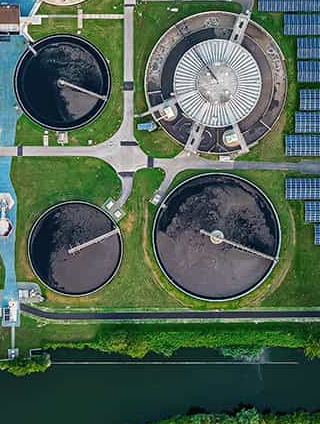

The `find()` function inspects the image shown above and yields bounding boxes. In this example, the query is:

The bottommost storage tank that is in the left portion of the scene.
[28,200,123,295]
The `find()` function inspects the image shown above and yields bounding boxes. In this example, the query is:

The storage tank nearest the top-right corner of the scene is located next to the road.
[144,12,287,154]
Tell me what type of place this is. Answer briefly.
industrial area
